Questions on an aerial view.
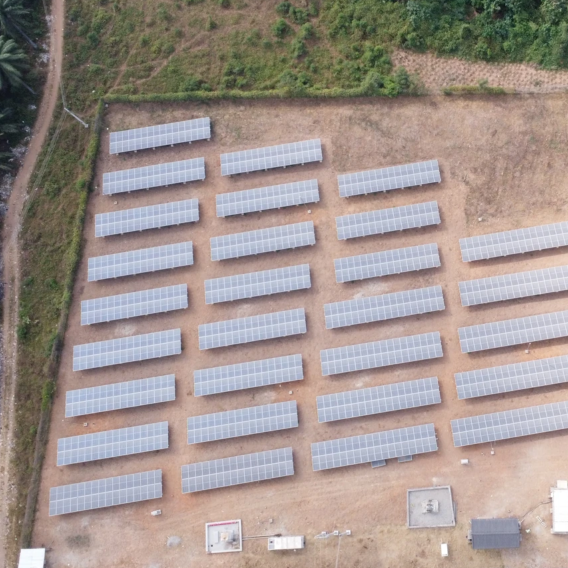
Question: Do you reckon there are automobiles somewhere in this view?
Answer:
No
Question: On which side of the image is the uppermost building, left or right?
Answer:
right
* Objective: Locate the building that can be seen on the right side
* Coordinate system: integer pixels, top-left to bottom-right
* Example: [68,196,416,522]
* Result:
[466,510,521,550]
